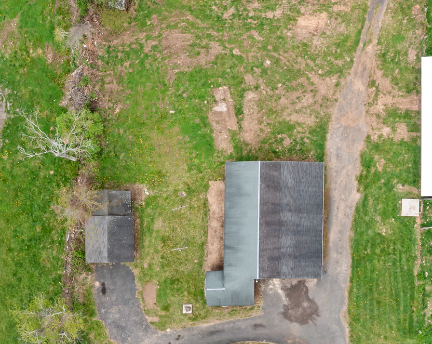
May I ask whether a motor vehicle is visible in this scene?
No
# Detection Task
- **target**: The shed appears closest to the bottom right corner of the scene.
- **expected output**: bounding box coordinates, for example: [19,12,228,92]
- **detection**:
[399,200,421,216]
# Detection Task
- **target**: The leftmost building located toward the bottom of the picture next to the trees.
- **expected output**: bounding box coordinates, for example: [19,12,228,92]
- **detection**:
[85,190,135,263]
